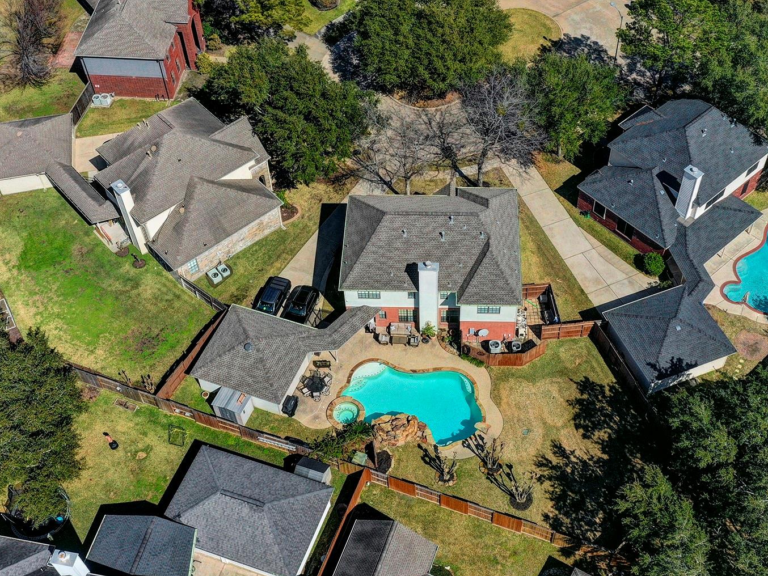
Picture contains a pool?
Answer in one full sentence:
Yes, the image includes a pool.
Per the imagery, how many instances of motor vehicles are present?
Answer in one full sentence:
Altogether the scene contains 2 motor vehicles.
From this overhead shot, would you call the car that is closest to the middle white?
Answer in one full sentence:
No, the car that is closest to the middle is black.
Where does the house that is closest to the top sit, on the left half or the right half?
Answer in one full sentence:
You can find the house that is closest to the top on the left side of the picture.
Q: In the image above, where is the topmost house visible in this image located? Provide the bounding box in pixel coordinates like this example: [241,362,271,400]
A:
[74,0,199,100]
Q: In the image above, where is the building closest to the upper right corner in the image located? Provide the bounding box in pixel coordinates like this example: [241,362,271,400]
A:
[576,91,768,305]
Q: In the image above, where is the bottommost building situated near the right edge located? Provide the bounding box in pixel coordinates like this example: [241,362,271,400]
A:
[601,285,736,401]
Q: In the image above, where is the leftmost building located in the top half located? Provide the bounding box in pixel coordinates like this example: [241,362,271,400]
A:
[0,112,121,231]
